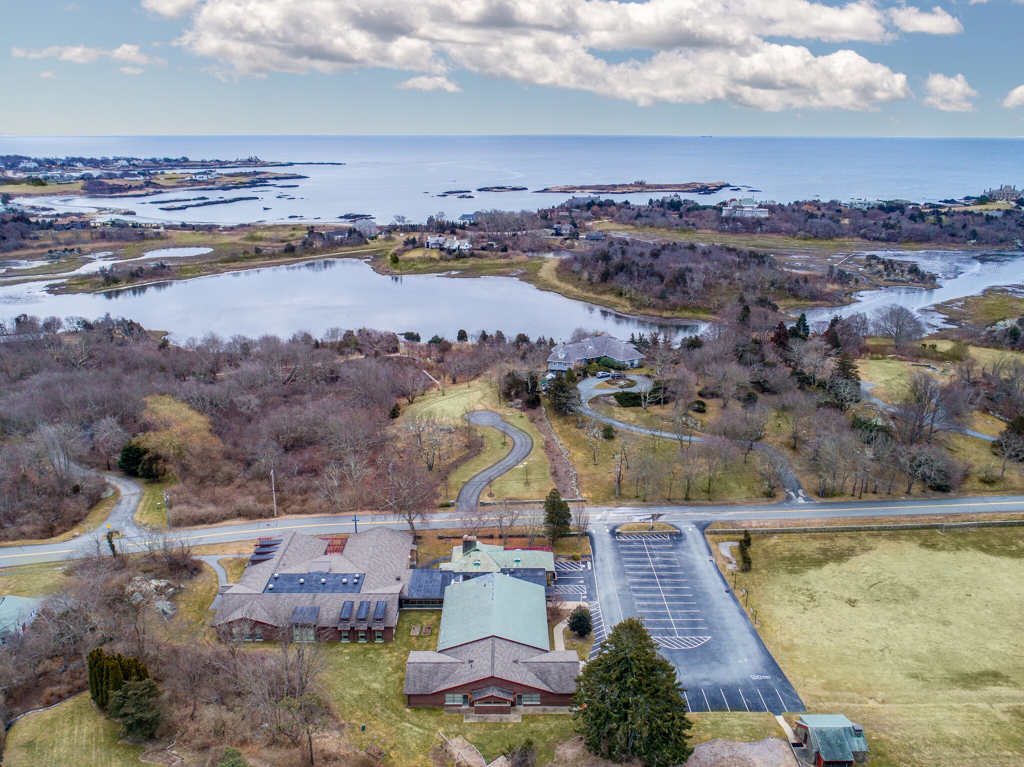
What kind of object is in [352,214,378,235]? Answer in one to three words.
house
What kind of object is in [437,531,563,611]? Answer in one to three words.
building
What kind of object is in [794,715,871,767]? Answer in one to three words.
shed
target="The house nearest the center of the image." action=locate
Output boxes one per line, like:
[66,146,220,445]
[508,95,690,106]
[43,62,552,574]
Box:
[547,333,645,375]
